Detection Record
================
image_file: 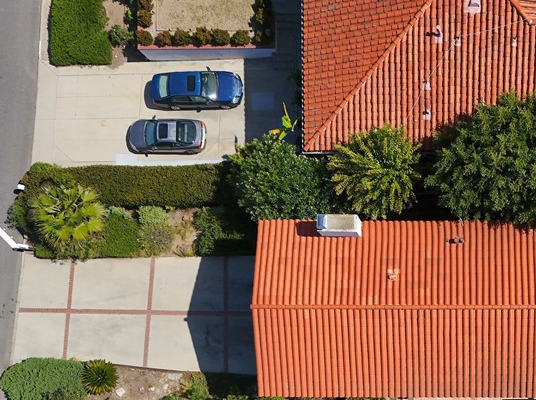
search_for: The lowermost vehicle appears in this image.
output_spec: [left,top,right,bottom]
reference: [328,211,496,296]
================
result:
[128,113,208,158]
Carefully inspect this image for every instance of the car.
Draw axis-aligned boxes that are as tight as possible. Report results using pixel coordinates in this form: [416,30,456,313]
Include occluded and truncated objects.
[150,67,245,114]
[128,113,208,158]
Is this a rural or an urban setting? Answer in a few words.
urban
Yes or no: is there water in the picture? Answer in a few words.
No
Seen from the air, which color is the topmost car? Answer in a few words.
blue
